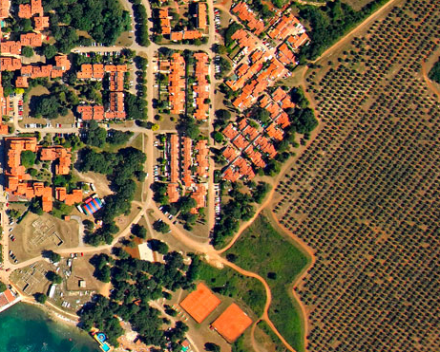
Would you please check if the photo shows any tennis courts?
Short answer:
Yes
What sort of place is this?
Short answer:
residential area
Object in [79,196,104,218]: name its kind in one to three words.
tent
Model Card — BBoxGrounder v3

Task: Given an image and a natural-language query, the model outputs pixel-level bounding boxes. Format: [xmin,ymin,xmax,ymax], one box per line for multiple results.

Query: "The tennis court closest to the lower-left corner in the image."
[180,283,221,324]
